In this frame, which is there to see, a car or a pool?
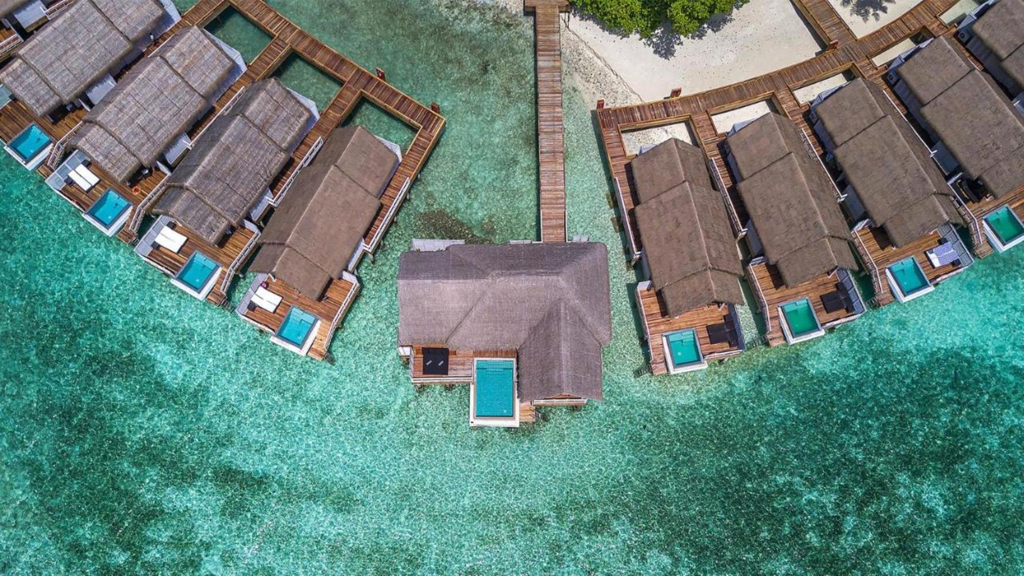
pool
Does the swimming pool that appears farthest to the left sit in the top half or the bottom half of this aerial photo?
top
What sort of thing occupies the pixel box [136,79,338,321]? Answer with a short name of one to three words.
house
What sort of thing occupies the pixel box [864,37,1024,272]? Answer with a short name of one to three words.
house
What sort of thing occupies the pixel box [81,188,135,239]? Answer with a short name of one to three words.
swimming pool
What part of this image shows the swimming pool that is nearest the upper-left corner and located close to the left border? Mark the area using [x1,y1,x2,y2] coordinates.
[2,122,56,173]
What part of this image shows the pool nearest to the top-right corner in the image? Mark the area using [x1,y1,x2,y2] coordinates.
[978,205,1024,255]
